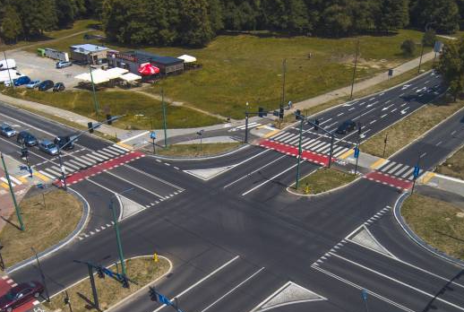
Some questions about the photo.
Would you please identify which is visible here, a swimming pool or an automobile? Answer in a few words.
automobile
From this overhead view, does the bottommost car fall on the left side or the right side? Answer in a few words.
left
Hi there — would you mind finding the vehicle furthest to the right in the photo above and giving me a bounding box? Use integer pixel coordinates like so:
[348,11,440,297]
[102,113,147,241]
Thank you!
[335,118,359,134]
